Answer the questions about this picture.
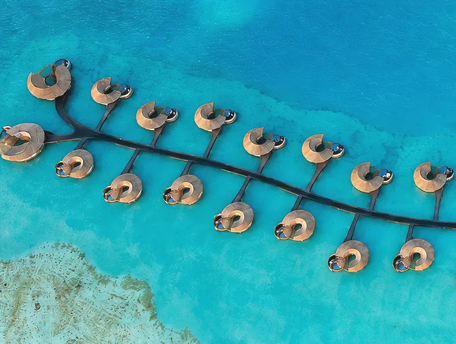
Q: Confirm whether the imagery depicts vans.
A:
No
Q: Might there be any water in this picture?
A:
Yes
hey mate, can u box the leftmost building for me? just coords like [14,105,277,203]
[0,123,47,162]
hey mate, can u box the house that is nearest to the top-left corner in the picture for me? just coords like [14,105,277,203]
[25,57,73,98]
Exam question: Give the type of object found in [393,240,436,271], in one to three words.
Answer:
house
